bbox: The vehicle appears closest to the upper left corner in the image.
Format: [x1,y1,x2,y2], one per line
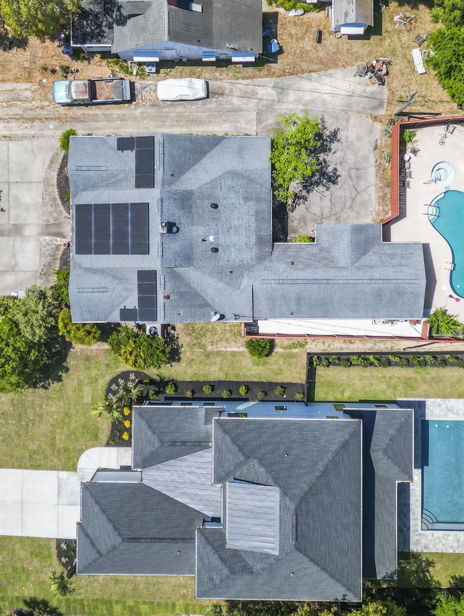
[52,71,133,106]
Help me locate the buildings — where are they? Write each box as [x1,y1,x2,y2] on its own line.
[76,402,415,603]
[71,0,262,65]
[68,134,426,324]
[294,0,373,41]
